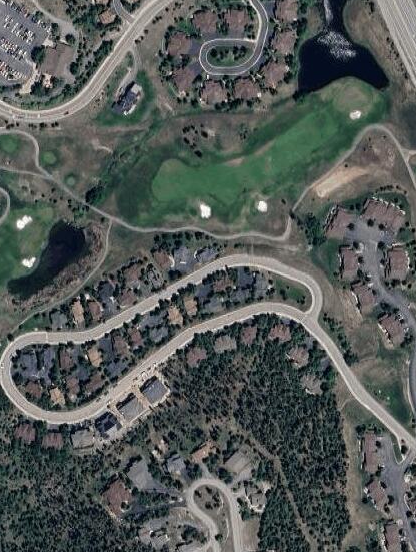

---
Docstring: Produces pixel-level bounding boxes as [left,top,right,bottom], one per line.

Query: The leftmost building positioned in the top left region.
[43,46,75,80]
